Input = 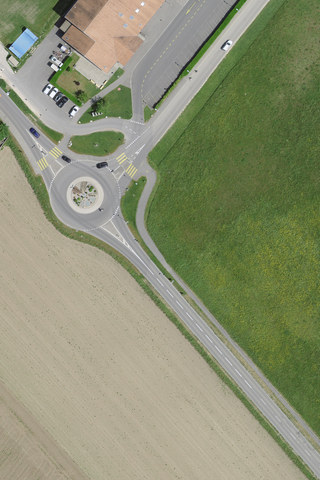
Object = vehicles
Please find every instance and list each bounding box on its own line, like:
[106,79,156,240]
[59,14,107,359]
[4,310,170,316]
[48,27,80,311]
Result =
[69,105,78,116]
[96,162,108,168]
[222,40,232,50]
[54,92,62,102]
[58,96,67,107]
[61,154,72,164]
[44,84,52,94]
[30,128,40,138]
[51,56,63,67]
[49,88,58,98]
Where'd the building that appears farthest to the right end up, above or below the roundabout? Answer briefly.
above it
